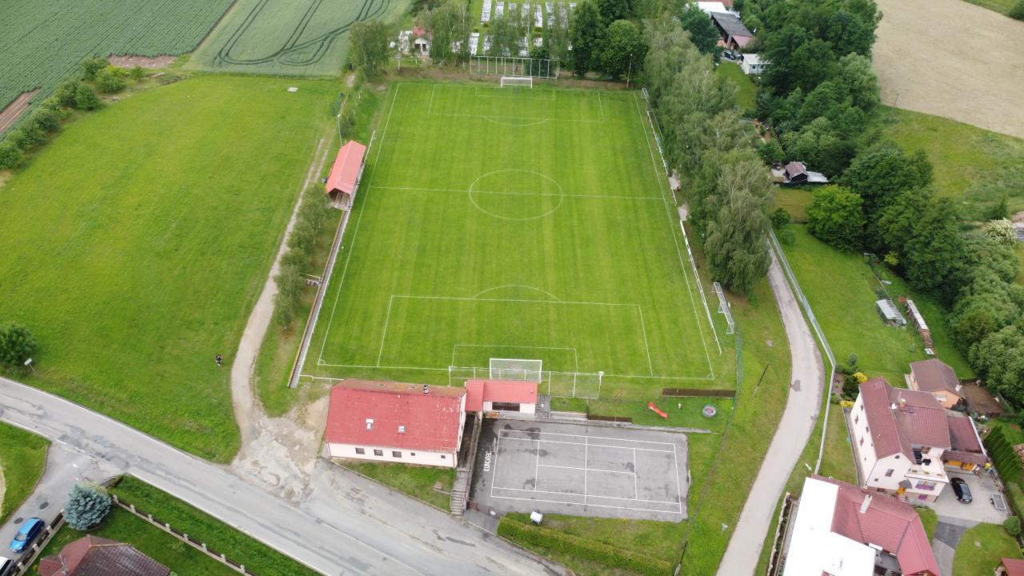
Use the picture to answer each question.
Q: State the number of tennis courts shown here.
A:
1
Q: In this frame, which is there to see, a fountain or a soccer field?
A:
soccer field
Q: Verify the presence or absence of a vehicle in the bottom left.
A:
Yes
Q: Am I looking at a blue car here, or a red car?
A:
blue car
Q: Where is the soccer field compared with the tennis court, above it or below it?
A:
above it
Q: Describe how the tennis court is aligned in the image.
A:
horizontally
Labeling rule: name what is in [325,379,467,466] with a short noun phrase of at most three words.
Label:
building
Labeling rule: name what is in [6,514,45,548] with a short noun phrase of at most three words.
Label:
car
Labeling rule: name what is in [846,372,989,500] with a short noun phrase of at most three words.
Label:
house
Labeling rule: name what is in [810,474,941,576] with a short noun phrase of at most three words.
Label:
house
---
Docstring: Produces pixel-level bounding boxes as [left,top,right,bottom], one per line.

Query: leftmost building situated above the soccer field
[413,27,430,55]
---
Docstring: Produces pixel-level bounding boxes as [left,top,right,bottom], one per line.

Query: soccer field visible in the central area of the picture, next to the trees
[303,81,733,390]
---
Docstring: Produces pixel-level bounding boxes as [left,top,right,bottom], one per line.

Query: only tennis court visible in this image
[472,421,687,522]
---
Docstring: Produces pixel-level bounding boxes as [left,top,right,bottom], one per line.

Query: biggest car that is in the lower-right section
[951,476,979,504]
